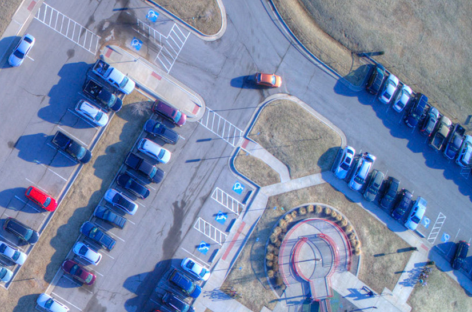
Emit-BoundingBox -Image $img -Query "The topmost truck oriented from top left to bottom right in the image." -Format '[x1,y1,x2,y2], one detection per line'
[91,59,135,94]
